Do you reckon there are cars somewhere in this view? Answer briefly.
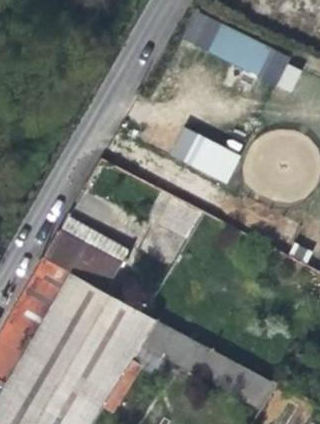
Yes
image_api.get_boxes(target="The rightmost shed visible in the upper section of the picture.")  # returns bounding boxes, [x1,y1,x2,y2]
[278,64,302,92]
